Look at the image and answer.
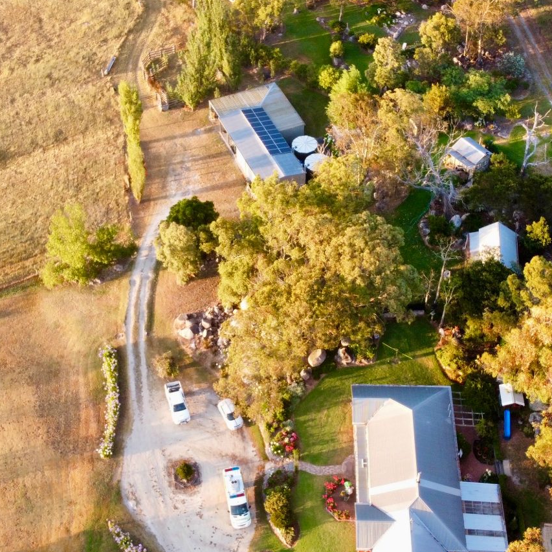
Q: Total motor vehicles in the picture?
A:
three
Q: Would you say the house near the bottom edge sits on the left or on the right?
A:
right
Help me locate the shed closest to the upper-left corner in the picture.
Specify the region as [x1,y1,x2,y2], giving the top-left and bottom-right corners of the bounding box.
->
[203,82,300,193]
